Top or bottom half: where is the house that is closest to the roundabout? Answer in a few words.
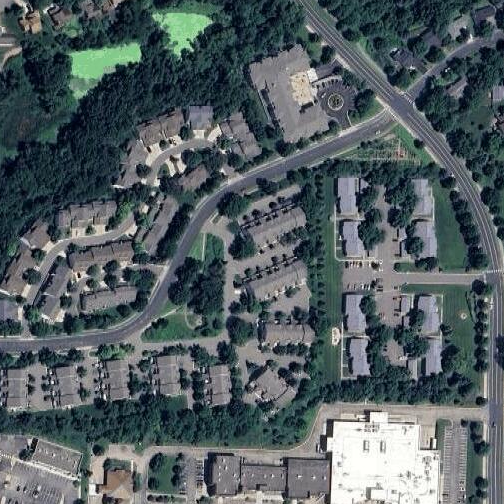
top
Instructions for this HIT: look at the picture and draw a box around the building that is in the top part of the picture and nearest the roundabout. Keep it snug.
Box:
[250,44,329,148]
